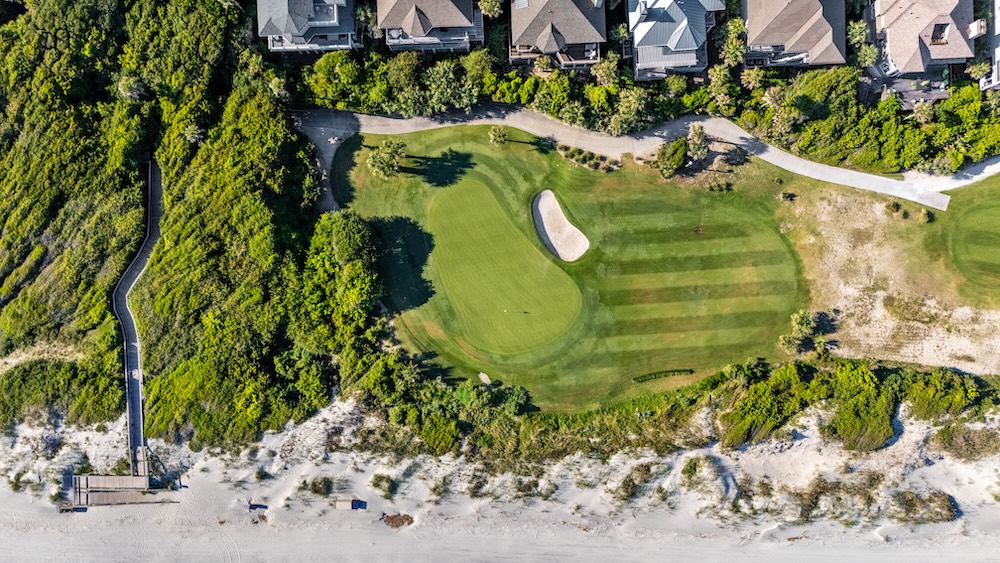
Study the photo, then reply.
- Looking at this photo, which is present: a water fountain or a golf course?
golf course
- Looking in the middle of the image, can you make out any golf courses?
Yes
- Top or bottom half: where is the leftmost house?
top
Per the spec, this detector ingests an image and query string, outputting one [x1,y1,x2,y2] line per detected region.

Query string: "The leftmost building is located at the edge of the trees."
[258,0,365,56]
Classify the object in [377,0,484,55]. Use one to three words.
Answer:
house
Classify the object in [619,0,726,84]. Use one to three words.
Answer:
house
